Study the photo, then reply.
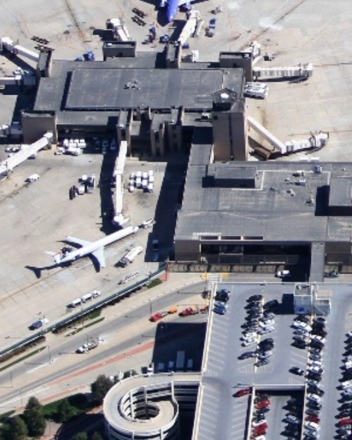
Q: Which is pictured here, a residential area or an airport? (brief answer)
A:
airport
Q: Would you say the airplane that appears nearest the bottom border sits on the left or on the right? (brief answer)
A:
left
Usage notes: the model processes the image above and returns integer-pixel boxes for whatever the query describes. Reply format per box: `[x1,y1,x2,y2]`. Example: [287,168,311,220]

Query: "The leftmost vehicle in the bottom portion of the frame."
[30,315,45,329]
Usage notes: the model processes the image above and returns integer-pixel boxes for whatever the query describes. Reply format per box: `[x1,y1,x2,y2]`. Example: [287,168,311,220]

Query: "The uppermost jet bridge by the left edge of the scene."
[0,40,38,68]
